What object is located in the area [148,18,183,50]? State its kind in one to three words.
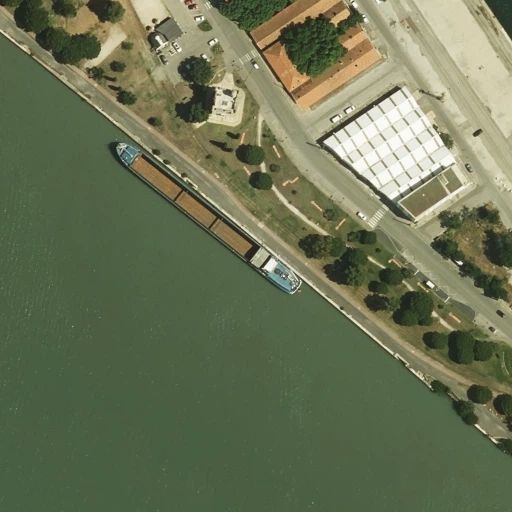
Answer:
building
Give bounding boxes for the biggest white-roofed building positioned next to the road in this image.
[322,88,454,200]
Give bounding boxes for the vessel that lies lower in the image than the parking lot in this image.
[117,142,303,295]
